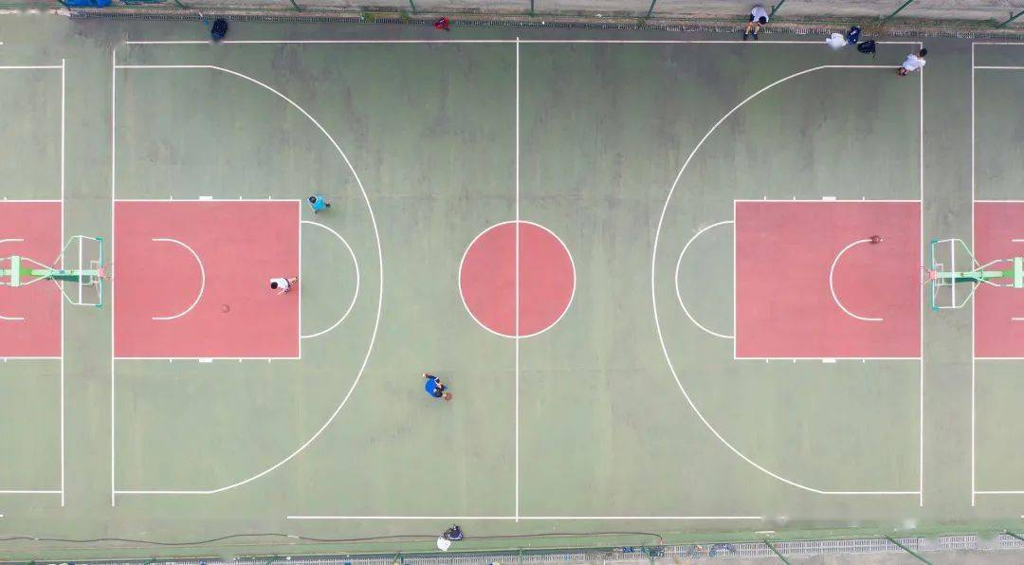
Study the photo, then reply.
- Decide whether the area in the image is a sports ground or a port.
sports ground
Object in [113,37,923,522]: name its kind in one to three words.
basketball court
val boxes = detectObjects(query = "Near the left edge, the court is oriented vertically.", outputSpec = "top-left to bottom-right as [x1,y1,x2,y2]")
[0,42,63,517]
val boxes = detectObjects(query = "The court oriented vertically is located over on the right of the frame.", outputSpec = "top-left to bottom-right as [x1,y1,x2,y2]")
[972,43,1024,517]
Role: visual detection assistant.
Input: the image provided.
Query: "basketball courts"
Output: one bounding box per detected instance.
[972,43,1024,517]
[0,42,63,517]
[113,37,923,522]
